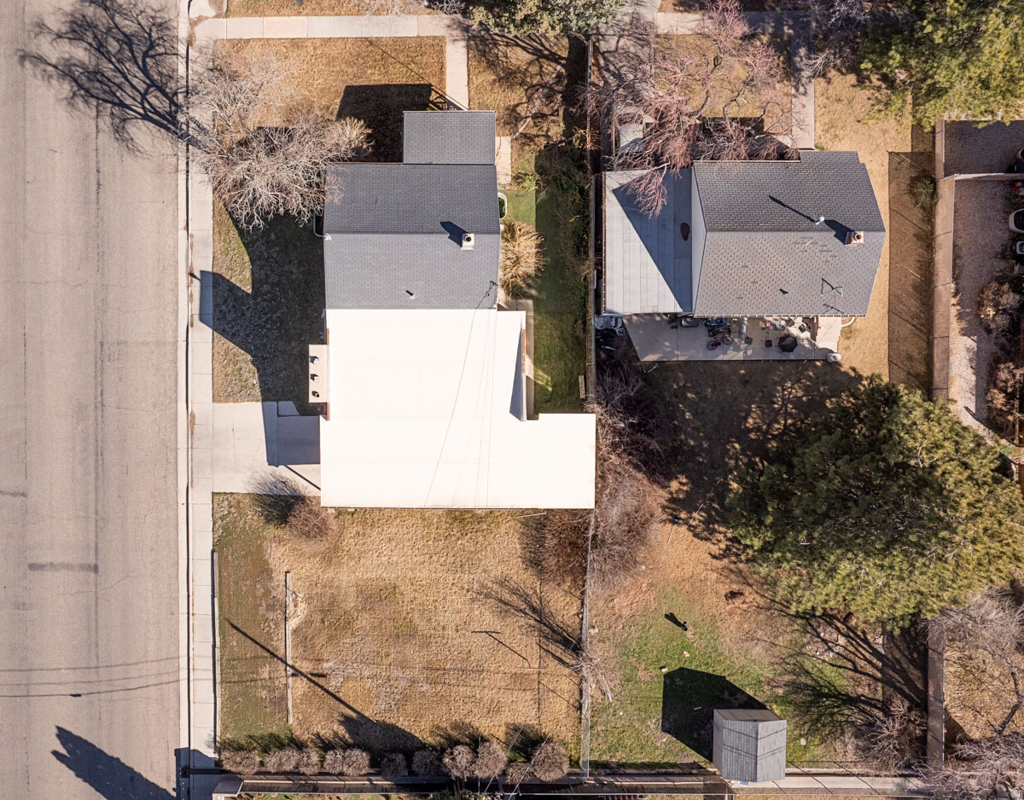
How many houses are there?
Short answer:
2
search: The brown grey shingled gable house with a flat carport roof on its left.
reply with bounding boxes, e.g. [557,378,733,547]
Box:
[597,152,887,318]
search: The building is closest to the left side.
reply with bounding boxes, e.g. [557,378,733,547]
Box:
[309,110,595,510]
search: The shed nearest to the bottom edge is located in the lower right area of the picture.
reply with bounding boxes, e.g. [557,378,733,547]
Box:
[714,709,786,780]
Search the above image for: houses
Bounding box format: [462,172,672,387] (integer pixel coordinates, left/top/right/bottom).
[309,110,595,510]
[597,152,887,318]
